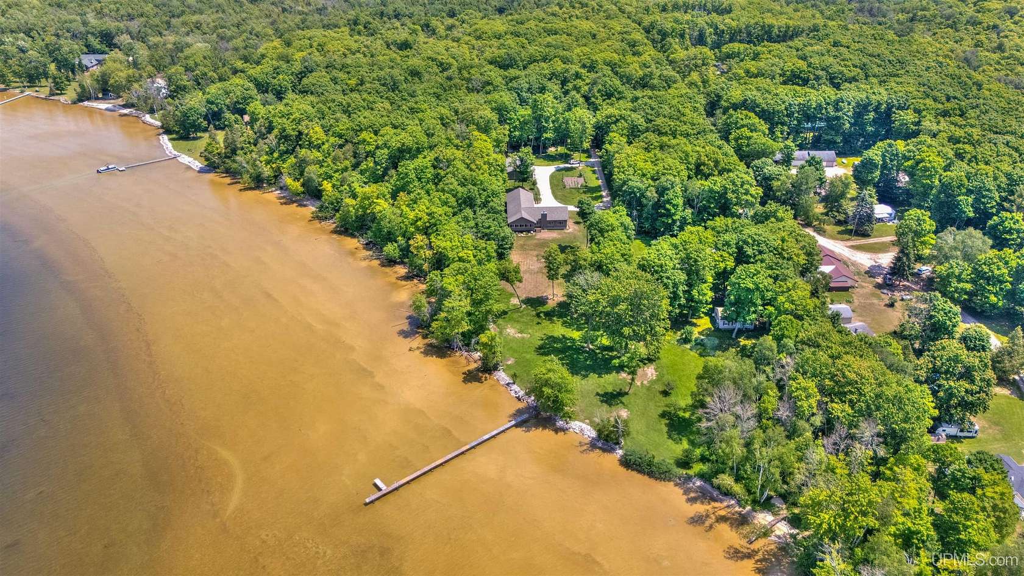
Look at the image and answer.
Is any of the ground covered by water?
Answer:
Yes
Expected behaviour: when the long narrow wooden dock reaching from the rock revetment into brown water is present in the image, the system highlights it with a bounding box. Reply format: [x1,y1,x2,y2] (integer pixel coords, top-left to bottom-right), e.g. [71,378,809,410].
[366,412,541,509]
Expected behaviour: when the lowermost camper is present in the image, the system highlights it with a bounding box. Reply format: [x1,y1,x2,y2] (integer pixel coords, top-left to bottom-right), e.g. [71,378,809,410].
[937,419,978,439]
